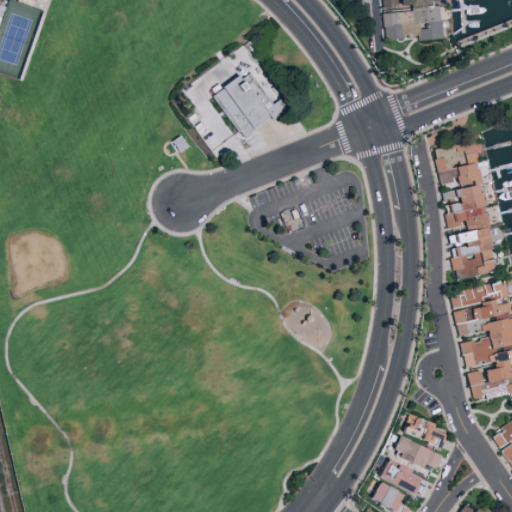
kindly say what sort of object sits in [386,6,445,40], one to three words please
building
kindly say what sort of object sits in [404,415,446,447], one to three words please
house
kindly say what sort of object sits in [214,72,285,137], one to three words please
building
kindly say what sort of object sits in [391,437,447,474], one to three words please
house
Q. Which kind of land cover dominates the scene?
grass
